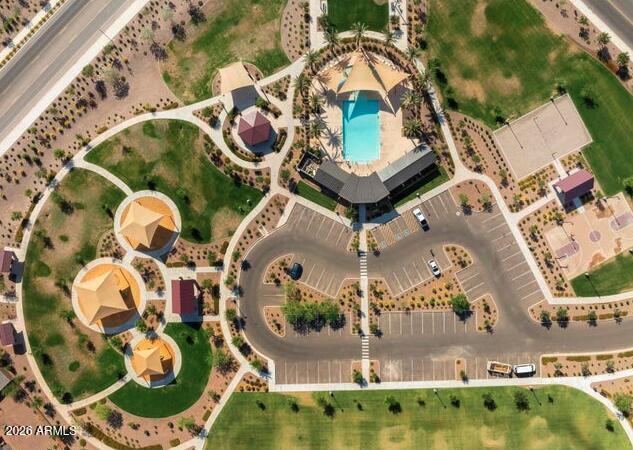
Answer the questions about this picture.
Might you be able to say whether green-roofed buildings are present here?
No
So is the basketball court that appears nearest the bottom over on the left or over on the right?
right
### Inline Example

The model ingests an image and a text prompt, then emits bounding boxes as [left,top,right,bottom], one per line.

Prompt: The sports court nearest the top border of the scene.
[493,93,593,180]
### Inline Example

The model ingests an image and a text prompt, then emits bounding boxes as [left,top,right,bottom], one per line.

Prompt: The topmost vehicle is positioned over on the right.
[412,205,430,231]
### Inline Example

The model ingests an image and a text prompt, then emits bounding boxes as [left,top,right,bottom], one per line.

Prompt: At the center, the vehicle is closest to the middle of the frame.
[289,261,304,282]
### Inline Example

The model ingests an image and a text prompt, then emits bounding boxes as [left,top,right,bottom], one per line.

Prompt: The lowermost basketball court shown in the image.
[545,193,633,279]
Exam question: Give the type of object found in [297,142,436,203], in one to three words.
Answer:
building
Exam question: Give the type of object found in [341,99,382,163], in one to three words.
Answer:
swimming pool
